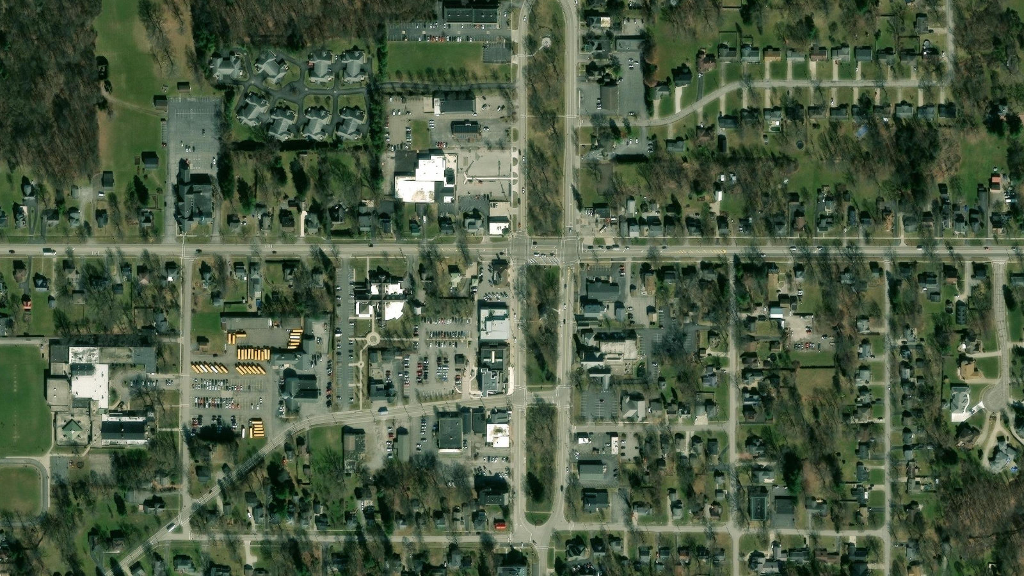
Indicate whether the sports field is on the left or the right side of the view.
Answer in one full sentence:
You can find the sports field on the left side of the picture.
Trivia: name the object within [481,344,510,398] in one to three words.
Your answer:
building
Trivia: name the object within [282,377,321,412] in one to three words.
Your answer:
building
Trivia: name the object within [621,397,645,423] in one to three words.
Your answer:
house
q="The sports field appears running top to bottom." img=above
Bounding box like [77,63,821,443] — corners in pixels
[0,346,51,456]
